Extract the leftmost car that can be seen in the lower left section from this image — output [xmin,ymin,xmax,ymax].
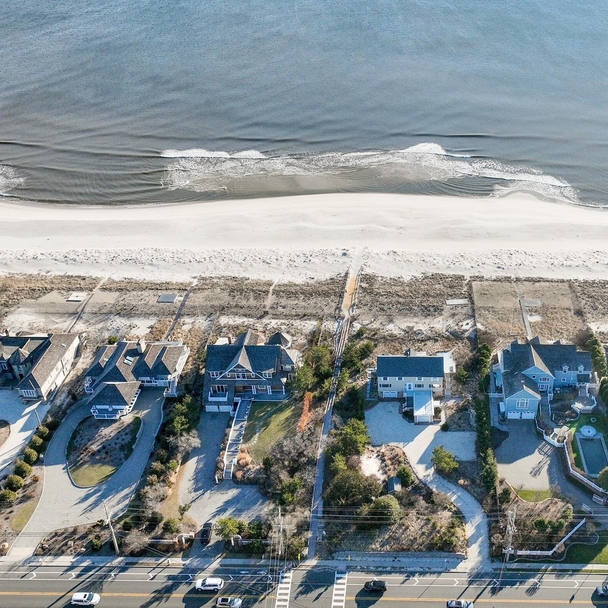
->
[69,591,101,607]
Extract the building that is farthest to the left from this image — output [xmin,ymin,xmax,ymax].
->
[0,333,77,411]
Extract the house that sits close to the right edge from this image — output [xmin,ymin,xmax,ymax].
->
[488,332,605,418]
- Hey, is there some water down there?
Yes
